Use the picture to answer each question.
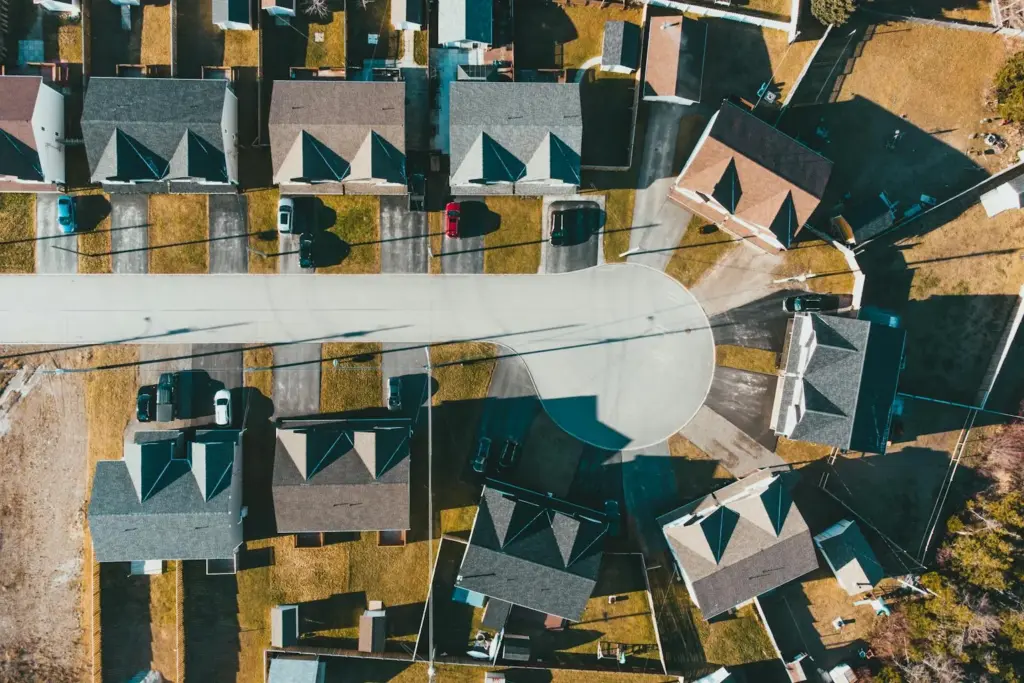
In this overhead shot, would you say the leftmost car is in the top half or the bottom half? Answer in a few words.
top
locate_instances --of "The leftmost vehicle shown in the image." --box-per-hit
[56,196,77,232]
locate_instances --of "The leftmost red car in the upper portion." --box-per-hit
[444,203,462,238]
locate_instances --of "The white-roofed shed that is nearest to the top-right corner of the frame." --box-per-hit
[980,173,1024,220]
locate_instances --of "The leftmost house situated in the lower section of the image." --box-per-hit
[88,428,246,561]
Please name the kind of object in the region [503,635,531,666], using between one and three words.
shed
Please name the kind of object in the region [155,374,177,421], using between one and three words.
truck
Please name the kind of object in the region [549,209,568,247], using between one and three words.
car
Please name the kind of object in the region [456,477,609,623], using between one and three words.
house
